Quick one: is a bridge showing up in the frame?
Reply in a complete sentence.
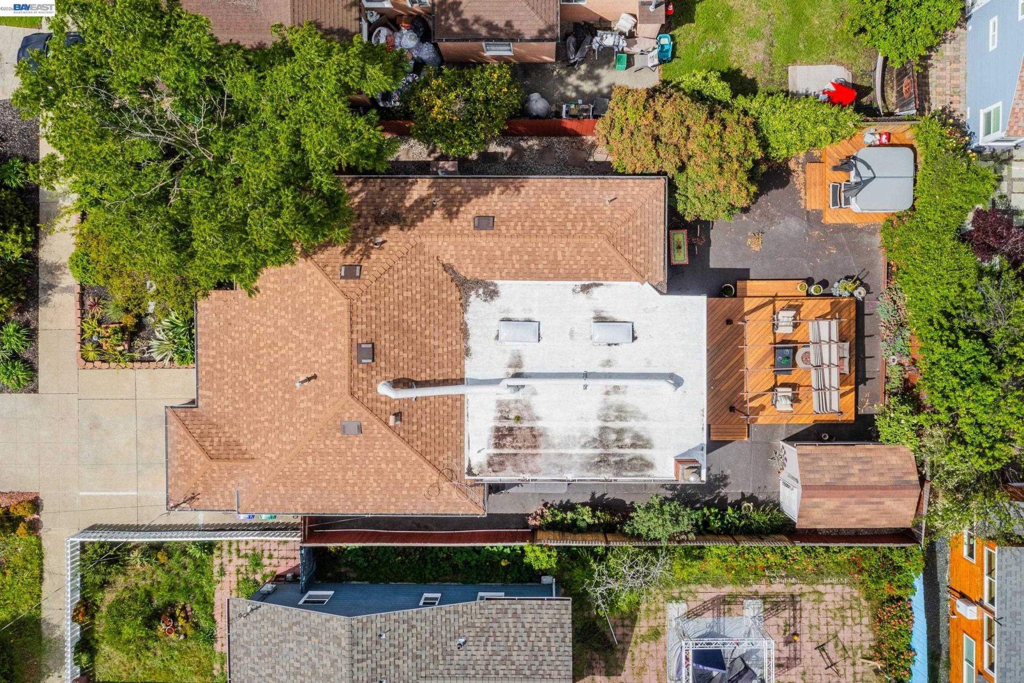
No, no bridge is visible in the view.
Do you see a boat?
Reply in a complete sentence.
No, there's no boat here.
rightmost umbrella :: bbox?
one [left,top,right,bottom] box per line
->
[835,157,870,201]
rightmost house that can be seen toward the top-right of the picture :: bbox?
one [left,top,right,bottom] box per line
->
[965,0,1024,147]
